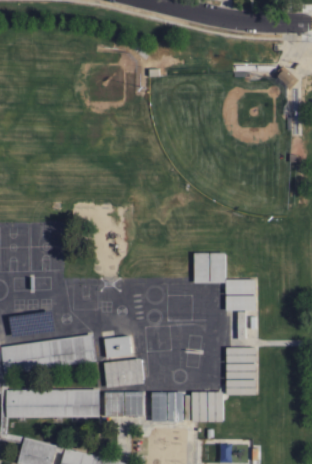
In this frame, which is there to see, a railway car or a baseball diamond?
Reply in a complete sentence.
Looking from above, you can make out a baseball diamond.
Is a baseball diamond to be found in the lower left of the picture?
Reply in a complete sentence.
No, there's no baseball diamond to be seen in the lower left of the picture.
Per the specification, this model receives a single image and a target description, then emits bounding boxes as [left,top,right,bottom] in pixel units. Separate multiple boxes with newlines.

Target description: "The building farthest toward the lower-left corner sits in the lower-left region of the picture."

[18,438,57,464]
